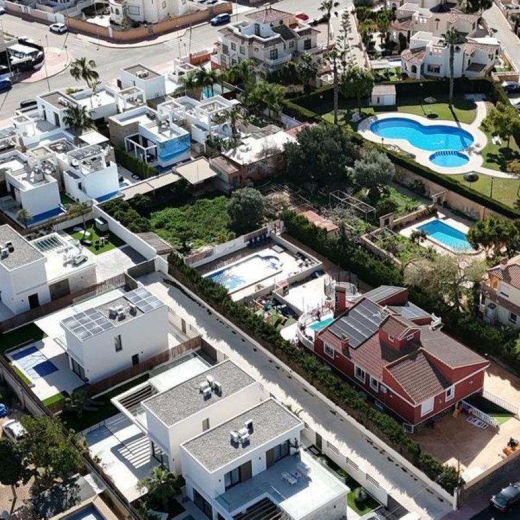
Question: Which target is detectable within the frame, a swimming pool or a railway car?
swimming pool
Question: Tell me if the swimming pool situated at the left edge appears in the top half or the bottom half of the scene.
bottom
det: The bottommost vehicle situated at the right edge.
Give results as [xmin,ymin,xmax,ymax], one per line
[489,479,520,515]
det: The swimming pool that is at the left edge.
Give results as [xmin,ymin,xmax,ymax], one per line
[10,342,65,383]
